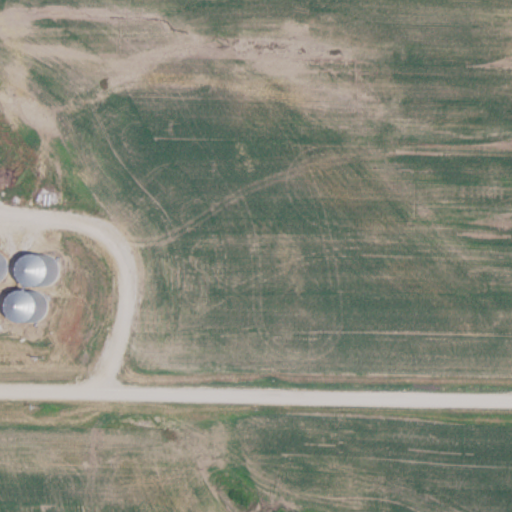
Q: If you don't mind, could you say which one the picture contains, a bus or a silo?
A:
silo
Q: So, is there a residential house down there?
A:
No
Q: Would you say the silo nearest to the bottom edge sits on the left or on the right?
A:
left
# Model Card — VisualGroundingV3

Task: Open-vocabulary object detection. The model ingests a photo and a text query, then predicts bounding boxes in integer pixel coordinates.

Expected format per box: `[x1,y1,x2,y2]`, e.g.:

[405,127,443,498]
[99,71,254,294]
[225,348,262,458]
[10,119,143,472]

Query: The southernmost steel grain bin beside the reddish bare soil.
[2,288,48,326]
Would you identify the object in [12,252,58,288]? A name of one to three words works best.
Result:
silo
